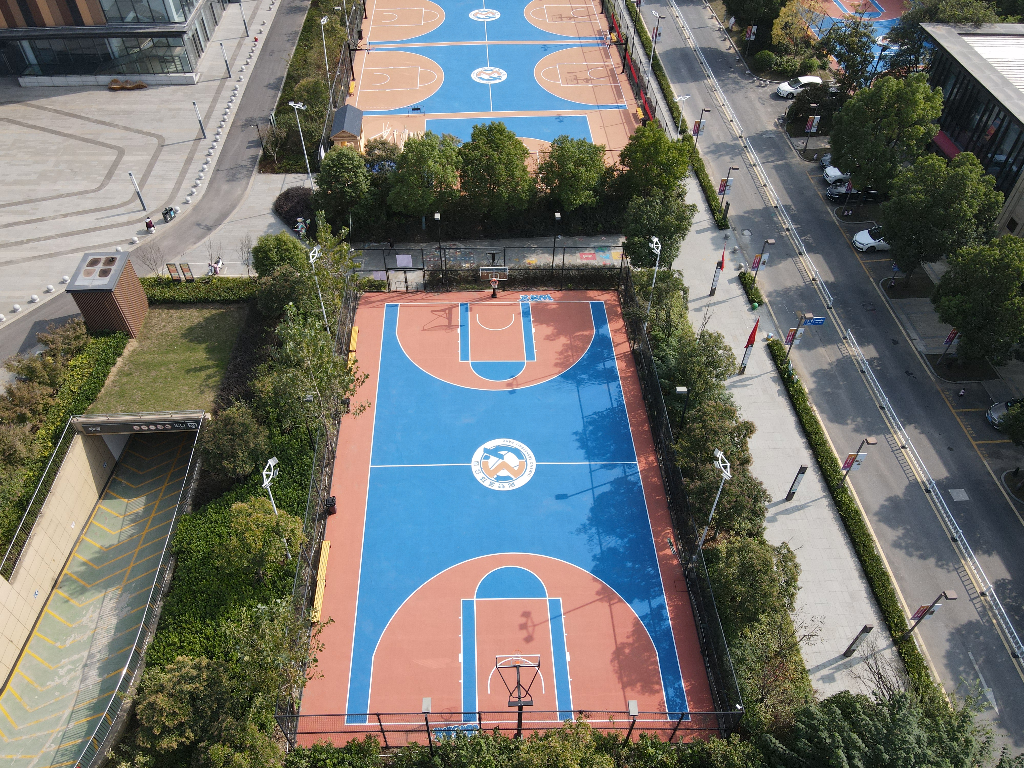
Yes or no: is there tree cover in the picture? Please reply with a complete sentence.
Yes, tree cover shows up in the scene.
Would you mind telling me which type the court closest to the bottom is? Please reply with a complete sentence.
In the photo, the court closest to the bottom shows up as a basketball court.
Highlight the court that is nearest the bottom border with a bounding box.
[294,289,722,749]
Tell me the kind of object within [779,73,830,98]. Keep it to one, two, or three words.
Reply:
car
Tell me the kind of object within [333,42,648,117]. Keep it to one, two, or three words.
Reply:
basketball court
